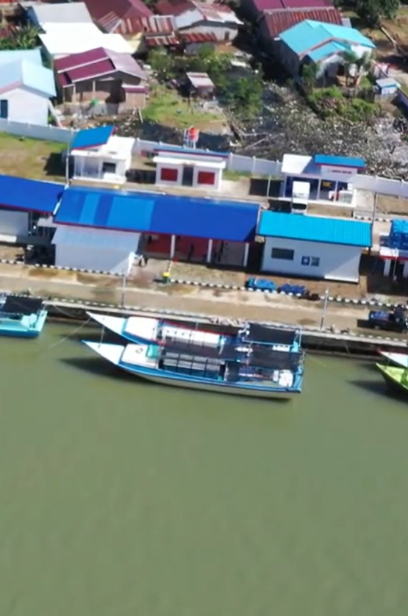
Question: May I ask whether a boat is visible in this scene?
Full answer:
Yes, this view includes a boat.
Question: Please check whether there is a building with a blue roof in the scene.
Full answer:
Yes, I can see a building with a blue roof in this picture.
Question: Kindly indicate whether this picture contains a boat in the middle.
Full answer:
Yes, a boat can be seen in the middle.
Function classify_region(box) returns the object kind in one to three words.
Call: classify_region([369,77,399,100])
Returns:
shed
